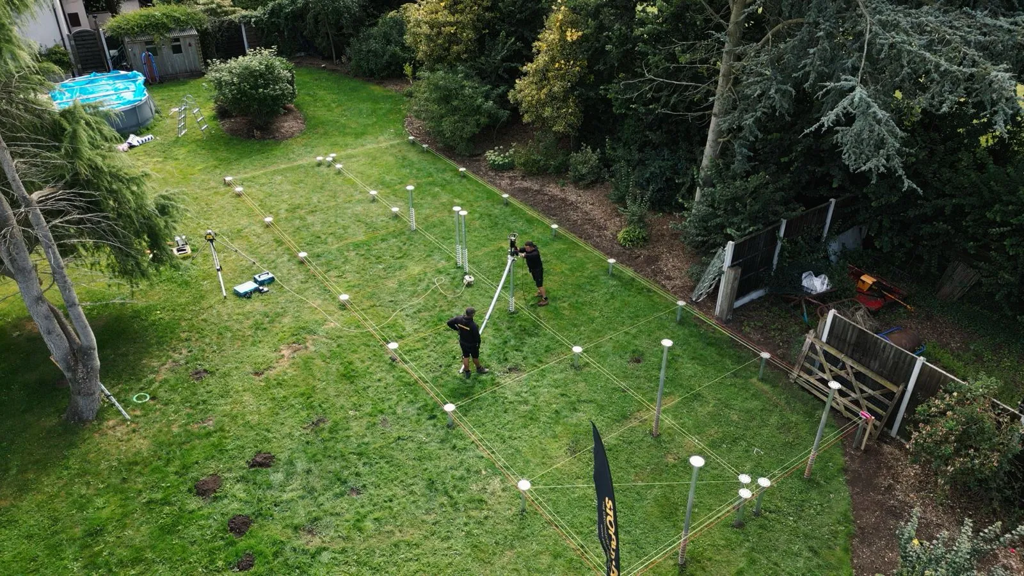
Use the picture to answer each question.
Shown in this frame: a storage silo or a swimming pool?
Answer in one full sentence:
It is a swimming pool that can be seen here.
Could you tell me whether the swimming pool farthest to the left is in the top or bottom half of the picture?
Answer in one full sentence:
You can find the swimming pool farthest to the left in the top half.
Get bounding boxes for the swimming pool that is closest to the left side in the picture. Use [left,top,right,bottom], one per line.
[45,68,172,133]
